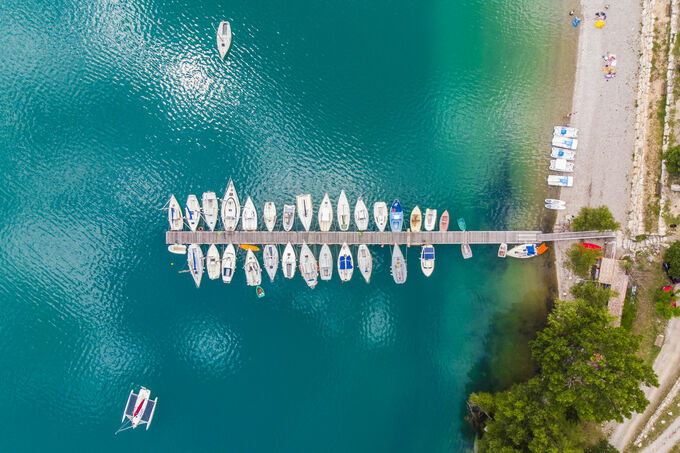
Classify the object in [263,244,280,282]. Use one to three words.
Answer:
boat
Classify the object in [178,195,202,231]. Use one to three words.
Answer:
boat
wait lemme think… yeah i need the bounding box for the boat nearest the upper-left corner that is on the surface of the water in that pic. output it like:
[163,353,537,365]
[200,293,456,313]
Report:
[212,18,232,60]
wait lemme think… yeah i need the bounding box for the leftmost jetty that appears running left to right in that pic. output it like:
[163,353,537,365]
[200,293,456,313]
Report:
[165,230,541,244]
